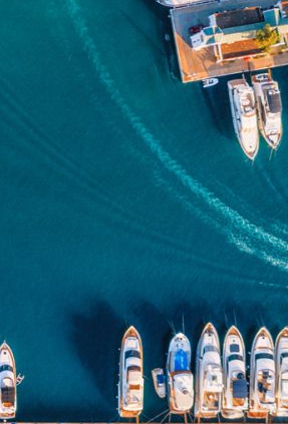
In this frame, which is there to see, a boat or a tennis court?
boat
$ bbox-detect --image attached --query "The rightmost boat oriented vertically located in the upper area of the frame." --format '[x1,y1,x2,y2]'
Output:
[250,69,282,158]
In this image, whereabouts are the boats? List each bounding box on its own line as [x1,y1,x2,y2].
[273,313,288,416]
[118,312,145,424]
[195,309,223,424]
[202,79,218,87]
[250,69,282,158]
[249,314,276,424]
[251,74,266,82]
[226,74,258,160]
[16,374,24,385]
[0,331,18,424]
[151,320,195,424]
[221,312,250,424]
[157,0,212,11]
[153,367,165,398]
